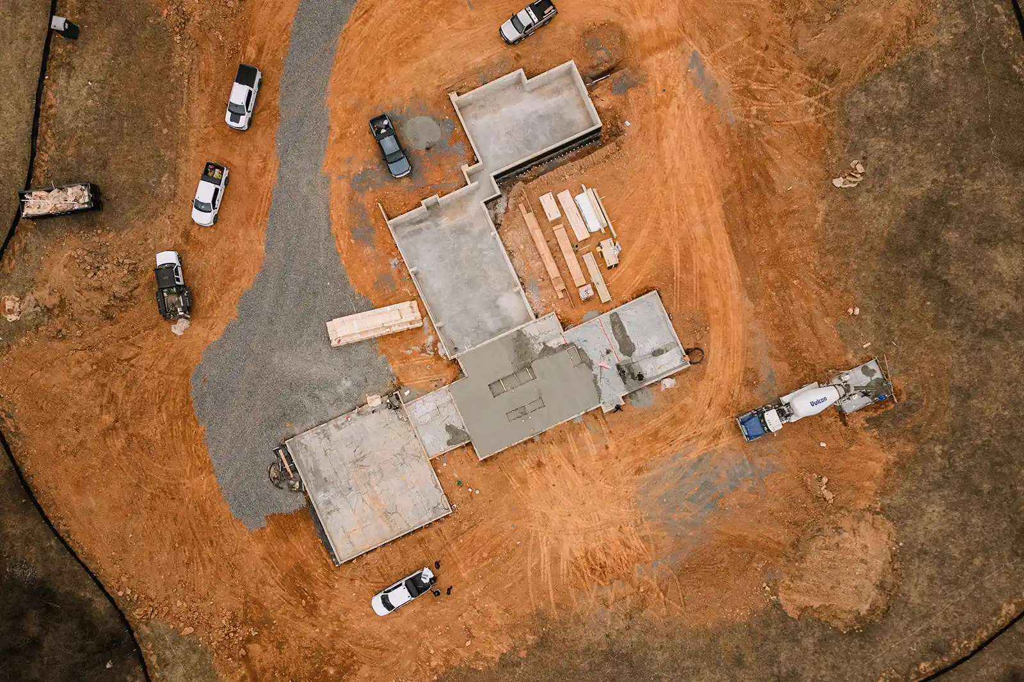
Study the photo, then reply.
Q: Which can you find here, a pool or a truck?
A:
truck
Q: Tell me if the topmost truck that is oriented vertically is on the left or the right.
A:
left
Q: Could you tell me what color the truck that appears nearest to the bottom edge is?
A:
white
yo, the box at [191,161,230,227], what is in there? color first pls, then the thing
white truck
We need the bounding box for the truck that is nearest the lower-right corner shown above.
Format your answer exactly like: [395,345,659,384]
[738,377,861,443]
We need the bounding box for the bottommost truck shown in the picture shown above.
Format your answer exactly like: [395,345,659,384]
[369,564,437,617]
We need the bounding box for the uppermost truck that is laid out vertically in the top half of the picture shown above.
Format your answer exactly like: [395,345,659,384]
[225,61,262,131]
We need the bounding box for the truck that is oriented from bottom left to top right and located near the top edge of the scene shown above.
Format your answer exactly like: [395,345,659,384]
[499,0,561,46]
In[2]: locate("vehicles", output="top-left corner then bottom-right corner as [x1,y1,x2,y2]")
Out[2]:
[499,0,561,46]
[369,564,437,617]
[191,161,230,227]
[225,61,262,131]
[367,112,414,178]
[151,254,194,321]
[738,377,861,443]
